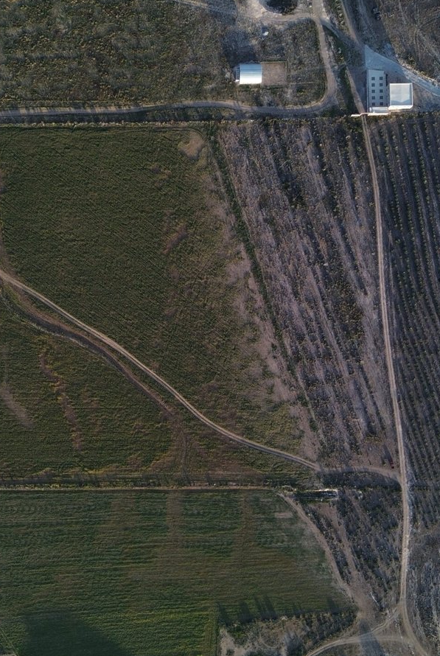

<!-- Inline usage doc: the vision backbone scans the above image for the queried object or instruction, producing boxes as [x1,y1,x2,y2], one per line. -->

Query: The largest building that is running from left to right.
[236,63,287,87]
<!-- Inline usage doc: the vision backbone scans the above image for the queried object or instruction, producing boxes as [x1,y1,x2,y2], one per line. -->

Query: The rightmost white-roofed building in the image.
[387,84,412,108]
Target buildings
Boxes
[387,84,412,108]
[236,63,287,87]
[365,70,385,108]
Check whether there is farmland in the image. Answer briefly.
Yes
